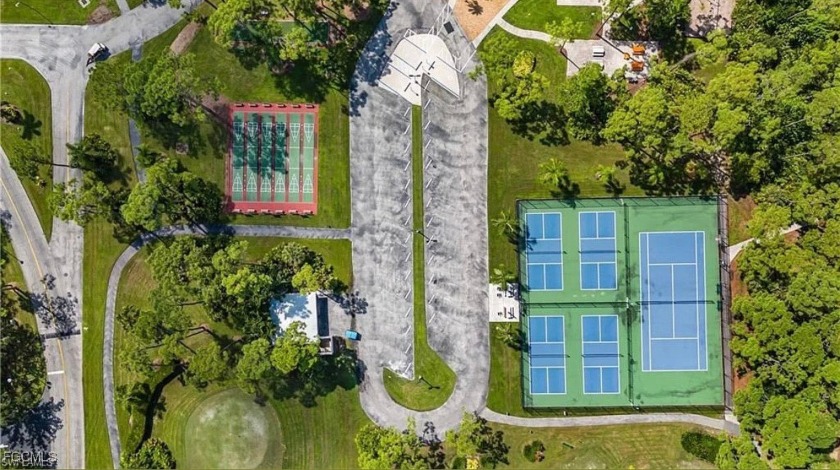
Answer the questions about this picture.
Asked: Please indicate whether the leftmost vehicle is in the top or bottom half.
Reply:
top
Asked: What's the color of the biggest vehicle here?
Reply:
white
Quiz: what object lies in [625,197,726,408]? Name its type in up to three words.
tennis court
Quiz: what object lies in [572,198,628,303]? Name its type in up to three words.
sports court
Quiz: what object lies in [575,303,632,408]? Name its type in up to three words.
sports court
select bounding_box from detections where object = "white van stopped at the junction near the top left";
[84,39,111,64]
